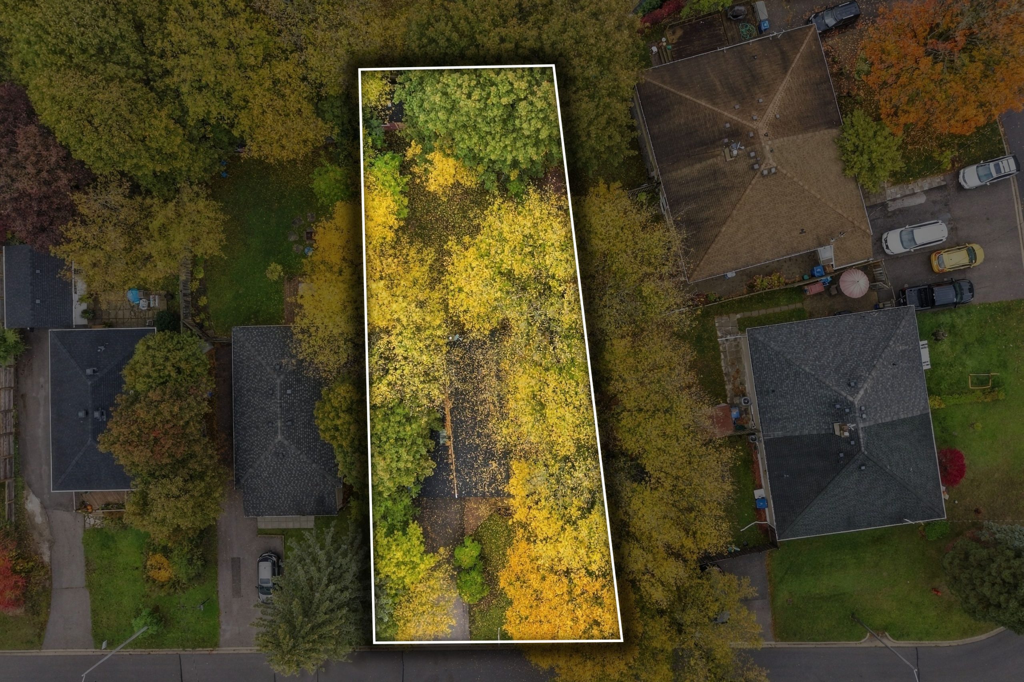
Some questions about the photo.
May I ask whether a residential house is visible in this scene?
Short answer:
Yes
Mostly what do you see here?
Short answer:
trees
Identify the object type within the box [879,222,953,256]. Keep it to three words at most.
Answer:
car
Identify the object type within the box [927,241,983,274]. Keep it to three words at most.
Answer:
car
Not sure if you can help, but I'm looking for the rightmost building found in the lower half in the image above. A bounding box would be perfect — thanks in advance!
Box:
[737,303,948,543]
